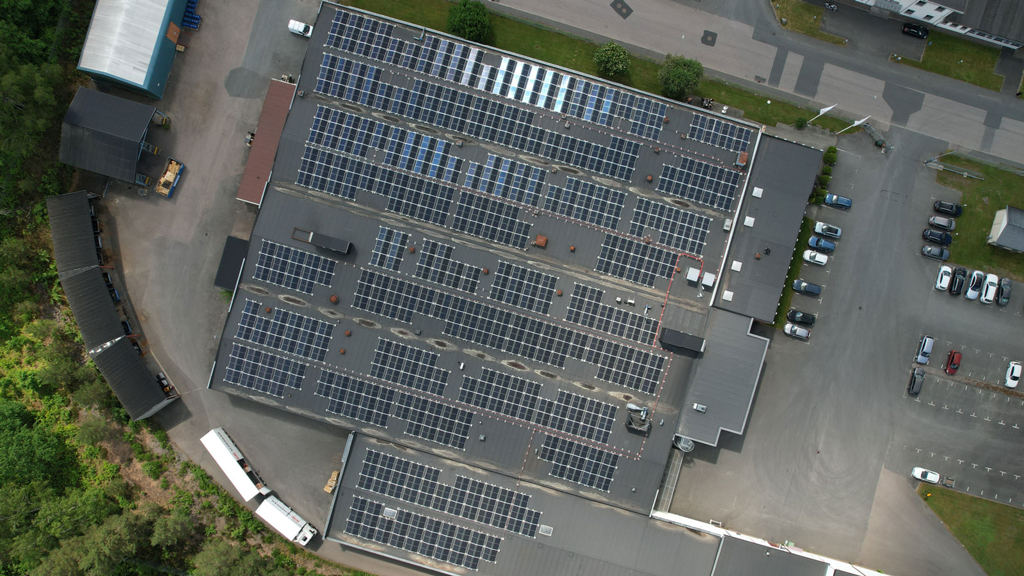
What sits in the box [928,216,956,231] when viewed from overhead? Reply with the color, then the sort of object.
gray car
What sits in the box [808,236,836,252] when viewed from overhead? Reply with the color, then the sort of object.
blue car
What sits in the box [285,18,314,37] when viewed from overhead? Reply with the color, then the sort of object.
white vehicle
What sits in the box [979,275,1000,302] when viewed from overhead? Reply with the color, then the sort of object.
white car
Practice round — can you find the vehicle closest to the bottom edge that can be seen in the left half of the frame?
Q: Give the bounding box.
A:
[256,494,318,547]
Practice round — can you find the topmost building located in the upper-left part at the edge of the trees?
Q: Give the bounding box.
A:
[76,0,188,99]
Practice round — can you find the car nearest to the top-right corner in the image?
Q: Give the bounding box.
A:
[901,23,929,40]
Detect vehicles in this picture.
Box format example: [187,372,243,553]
[901,23,929,40]
[285,18,314,37]
[934,266,953,290]
[787,309,816,326]
[792,279,822,296]
[911,466,942,484]
[916,336,935,363]
[933,201,962,216]
[256,494,318,547]
[922,230,951,246]
[808,236,836,252]
[921,245,950,261]
[1004,362,1023,387]
[949,268,969,296]
[825,1,838,9]
[802,250,828,265]
[965,271,984,298]
[824,193,852,209]
[979,275,1000,302]
[945,350,963,375]
[783,323,810,339]
[907,367,925,396]
[814,221,843,238]
[928,216,956,231]
[995,278,1013,305]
